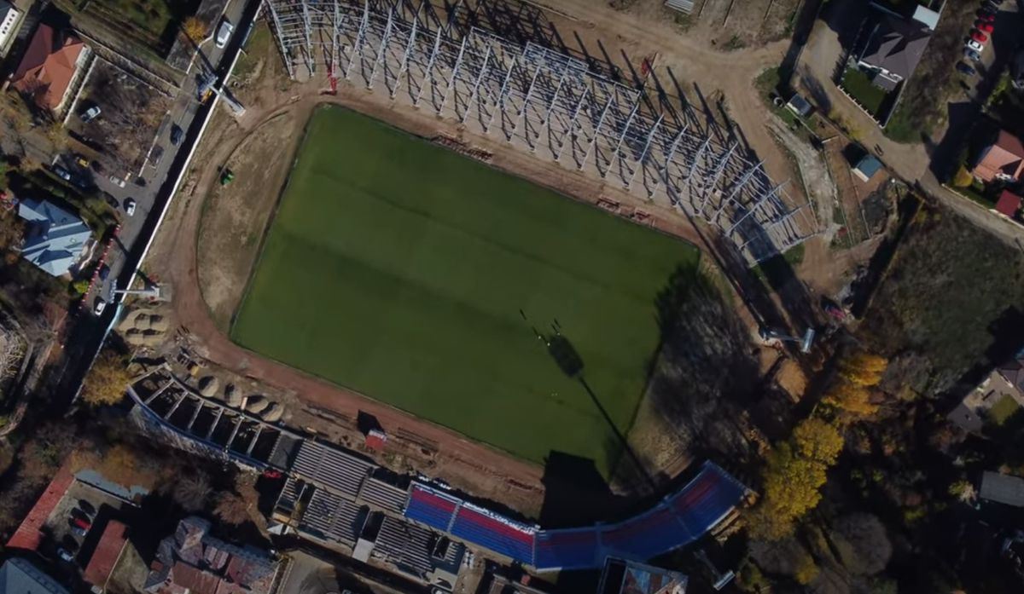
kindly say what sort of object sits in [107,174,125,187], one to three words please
vehicle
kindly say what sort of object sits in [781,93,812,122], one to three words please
shed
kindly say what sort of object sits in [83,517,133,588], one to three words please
house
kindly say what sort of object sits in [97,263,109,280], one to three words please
vehicle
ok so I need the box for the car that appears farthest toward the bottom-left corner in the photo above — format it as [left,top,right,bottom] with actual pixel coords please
[56,548,73,561]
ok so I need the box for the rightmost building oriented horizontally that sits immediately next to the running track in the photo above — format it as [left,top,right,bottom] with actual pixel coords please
[591,551,688,594]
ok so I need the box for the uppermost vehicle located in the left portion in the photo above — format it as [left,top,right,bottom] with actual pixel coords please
[212,18,232,47]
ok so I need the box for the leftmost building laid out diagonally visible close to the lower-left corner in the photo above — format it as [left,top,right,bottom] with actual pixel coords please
[6,461,82,549]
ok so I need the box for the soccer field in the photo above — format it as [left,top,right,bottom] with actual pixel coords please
[232,106,699,478]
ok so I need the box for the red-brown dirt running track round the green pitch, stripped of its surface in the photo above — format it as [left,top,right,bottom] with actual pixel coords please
[174,86,773,513]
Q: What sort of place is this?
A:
sports ground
